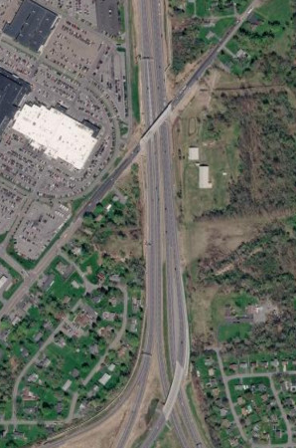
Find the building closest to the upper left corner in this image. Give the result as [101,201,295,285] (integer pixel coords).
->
[2,0,61,52]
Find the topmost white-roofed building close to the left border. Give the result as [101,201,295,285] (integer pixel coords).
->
[13,103,101,168]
